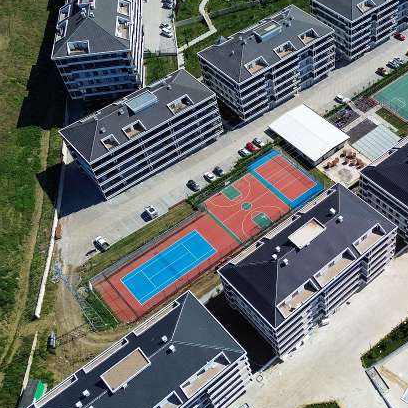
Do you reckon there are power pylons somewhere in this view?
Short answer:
Yes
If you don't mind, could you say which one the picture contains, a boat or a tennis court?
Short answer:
tennis court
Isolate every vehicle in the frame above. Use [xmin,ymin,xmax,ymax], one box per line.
[160,3,173,9]
[389,59,402,68]
[376,68,388,77]
[145,207,158,220]
[159,23,171,29]
[94,238,109,251]
[204,173,216,183]
[238,148,250,158]
[246,143,257,152]
[213,166,224,176]
[160,29,174,35]
[252,138,265,148]
[45,331,62,353]
[332,91,346,103]
[187,181,200,192]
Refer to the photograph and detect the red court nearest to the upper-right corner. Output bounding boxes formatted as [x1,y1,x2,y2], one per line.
[248,149,324,207]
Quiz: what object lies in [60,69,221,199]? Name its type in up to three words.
building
